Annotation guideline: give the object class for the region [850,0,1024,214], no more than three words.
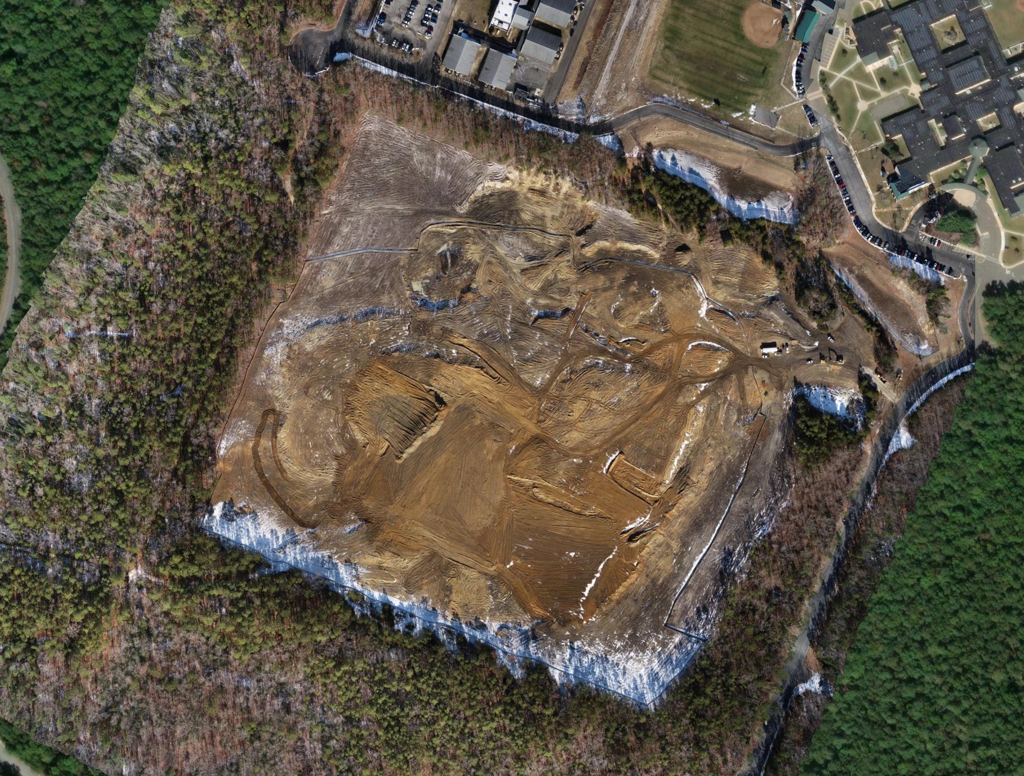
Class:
building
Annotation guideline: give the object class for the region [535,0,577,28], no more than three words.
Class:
building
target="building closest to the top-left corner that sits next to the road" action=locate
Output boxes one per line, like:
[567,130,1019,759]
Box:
[442,34,481,76]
